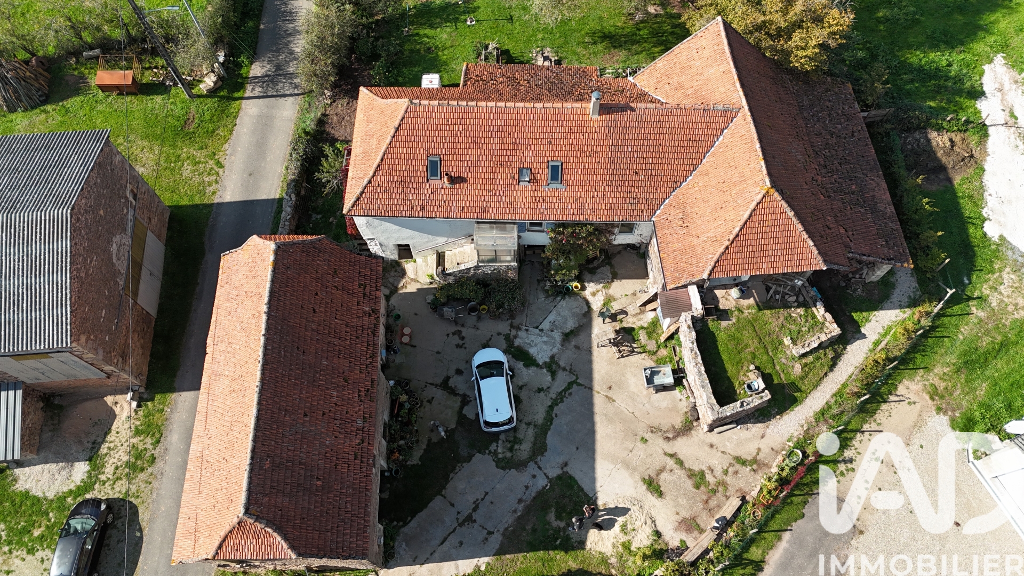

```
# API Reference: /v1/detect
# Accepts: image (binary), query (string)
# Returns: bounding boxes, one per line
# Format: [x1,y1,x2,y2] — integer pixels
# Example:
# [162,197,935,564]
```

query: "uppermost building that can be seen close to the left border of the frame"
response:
[0,125,170,392]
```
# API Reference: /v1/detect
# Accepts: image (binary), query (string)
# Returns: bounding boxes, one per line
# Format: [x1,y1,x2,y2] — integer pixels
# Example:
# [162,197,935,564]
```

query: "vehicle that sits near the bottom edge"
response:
[51,498,117,576]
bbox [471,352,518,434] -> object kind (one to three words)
car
